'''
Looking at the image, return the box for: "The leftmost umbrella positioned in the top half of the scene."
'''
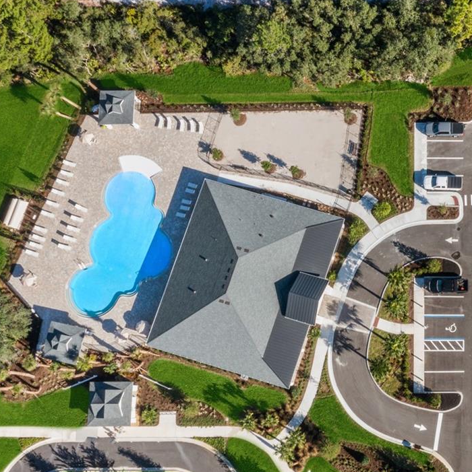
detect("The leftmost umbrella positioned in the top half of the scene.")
[79,130,98,146]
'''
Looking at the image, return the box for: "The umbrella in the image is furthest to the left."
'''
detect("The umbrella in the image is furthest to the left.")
[22,271,41,290]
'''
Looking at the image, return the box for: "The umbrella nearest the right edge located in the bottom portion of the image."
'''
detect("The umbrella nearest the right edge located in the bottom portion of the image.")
[133,317,152,336]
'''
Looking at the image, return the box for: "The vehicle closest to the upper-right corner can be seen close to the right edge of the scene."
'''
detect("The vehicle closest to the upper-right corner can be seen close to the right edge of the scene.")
[425,120,466,137]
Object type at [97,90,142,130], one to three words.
gazebo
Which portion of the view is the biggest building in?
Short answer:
center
